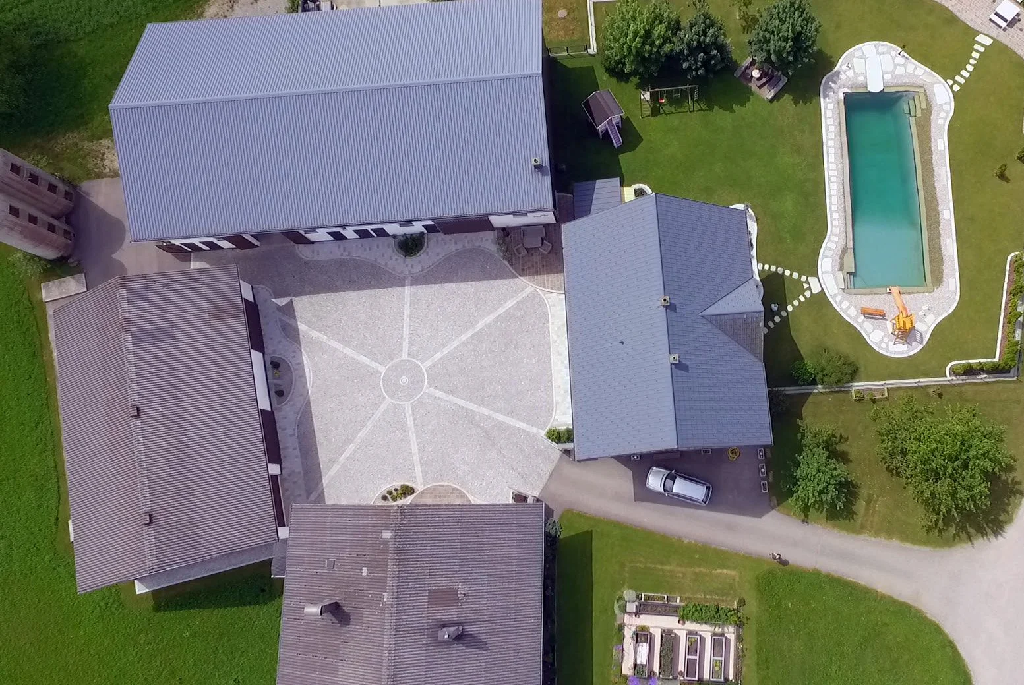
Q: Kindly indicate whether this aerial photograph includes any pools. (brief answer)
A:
Yes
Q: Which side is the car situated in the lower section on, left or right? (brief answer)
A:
right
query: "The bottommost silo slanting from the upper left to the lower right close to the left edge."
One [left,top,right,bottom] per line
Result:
[0,187,72,254]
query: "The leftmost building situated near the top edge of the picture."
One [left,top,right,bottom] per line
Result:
[112,0,556,251]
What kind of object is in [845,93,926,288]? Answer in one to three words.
swimming pool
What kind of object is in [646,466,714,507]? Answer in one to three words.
car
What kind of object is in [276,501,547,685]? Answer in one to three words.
barn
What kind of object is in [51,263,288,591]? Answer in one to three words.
barn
